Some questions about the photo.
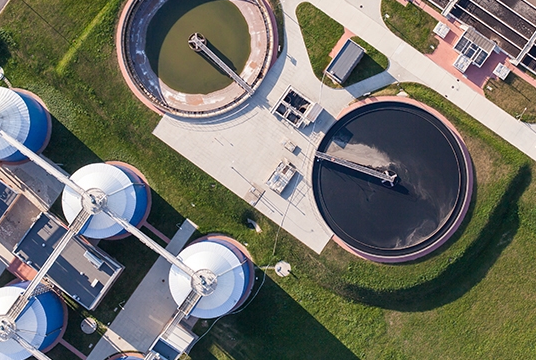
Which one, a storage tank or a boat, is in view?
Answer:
storage tank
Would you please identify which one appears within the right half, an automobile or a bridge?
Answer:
bridge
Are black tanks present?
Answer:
Yes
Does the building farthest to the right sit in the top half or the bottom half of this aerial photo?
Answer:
top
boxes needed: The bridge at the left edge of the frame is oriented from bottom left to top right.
[8,209,92,318]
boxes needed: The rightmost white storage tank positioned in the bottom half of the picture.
[168,235,252,320]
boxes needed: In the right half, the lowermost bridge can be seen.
[318,151,396,184]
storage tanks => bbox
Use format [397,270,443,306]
[168,235,252,320]
[61,160,150,240]
[117,0,277,115]
[314,98,474,263]
[0,276,65,360]
[0,85,50,166]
